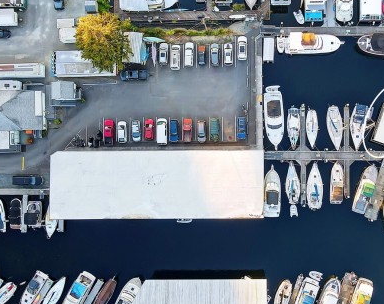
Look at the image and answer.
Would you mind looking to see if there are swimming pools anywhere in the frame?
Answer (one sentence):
No, no swimming pool is visible in the scene.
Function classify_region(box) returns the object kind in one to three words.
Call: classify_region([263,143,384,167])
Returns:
pier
